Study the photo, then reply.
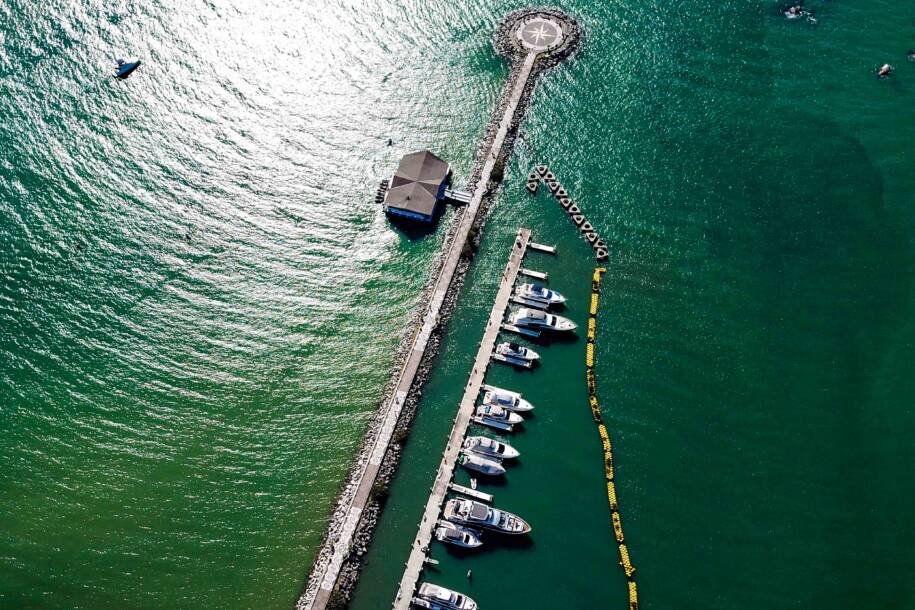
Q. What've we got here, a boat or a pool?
boat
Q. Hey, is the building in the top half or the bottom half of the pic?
top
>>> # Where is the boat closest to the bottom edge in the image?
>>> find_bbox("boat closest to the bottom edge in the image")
[415,576,478,610]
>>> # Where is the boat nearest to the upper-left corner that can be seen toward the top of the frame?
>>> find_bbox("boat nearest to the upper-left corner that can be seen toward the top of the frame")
[110,60,139,76]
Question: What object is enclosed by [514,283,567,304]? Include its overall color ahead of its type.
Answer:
white boat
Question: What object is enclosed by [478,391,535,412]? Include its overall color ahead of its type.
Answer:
white boat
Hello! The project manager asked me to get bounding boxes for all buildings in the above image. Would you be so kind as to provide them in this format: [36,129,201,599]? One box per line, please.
[386,151,454,226]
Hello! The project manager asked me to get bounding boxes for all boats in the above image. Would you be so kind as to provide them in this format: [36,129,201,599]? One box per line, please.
[469,405,525,426]
[478,391,535,412]
[432,526,483,547]
[464,435,521,458]
[458,454,505,473]
[415,576,478,610]
[110,60,139,76]
[506,308,578,333]
[494,342,541,361]
[436,500,532,533]
[514,283,567,304]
